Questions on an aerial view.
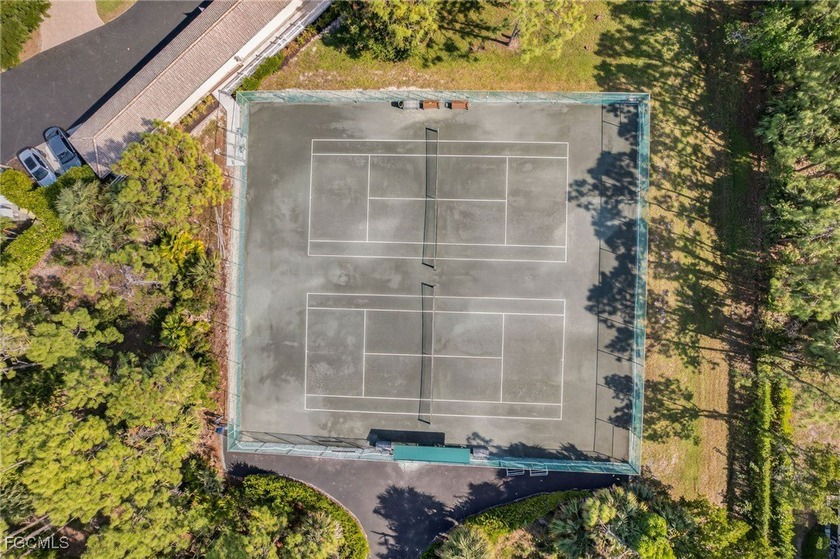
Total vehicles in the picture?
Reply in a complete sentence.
The photo contains 2 vehicles.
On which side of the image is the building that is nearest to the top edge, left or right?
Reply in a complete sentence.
It is on the left.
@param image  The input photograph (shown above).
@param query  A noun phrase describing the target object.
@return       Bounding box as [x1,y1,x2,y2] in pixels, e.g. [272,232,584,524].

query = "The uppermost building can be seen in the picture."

[68,0,308,177]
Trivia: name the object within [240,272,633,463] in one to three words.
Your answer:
tennis court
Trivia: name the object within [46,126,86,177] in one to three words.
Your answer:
car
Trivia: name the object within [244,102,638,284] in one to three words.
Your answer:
tennis court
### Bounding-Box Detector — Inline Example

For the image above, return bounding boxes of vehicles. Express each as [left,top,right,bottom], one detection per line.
[46,126,86,177]
[19,142,60,188]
